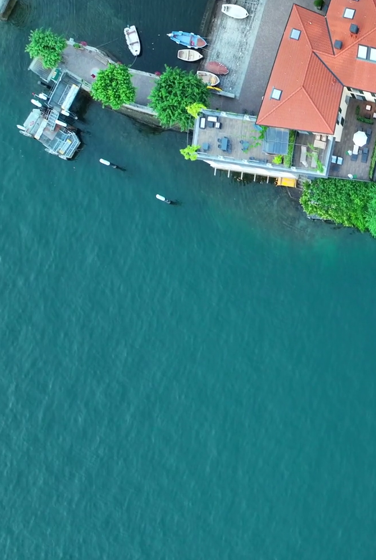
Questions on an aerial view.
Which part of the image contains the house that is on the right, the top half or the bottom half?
top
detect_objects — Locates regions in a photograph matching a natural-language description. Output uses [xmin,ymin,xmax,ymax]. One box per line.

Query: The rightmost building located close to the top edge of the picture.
[255,0,376,142]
